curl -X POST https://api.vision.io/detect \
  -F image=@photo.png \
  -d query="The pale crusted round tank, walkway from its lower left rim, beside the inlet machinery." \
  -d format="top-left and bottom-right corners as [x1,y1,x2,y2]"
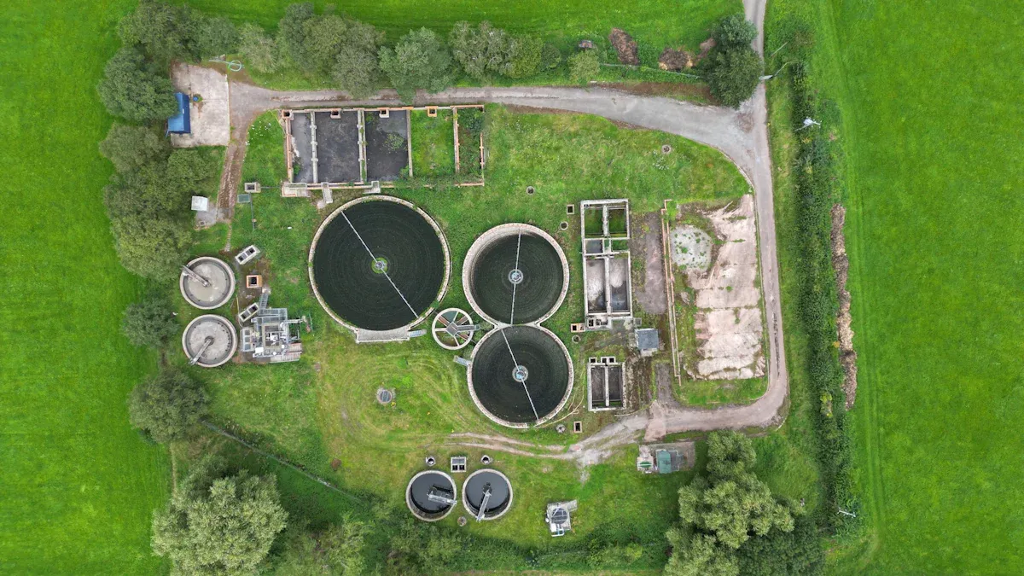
[182,312,240,368]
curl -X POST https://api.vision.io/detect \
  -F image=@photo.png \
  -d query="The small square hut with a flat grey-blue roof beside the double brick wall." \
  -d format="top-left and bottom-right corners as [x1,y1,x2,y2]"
[635,329,658,356]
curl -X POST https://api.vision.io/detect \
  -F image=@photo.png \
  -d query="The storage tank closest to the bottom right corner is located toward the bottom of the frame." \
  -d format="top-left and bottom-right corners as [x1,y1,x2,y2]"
[587,355,626,411]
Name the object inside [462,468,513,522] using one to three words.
storage tank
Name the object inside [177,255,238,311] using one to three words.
storage tank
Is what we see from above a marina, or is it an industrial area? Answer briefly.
industrial area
